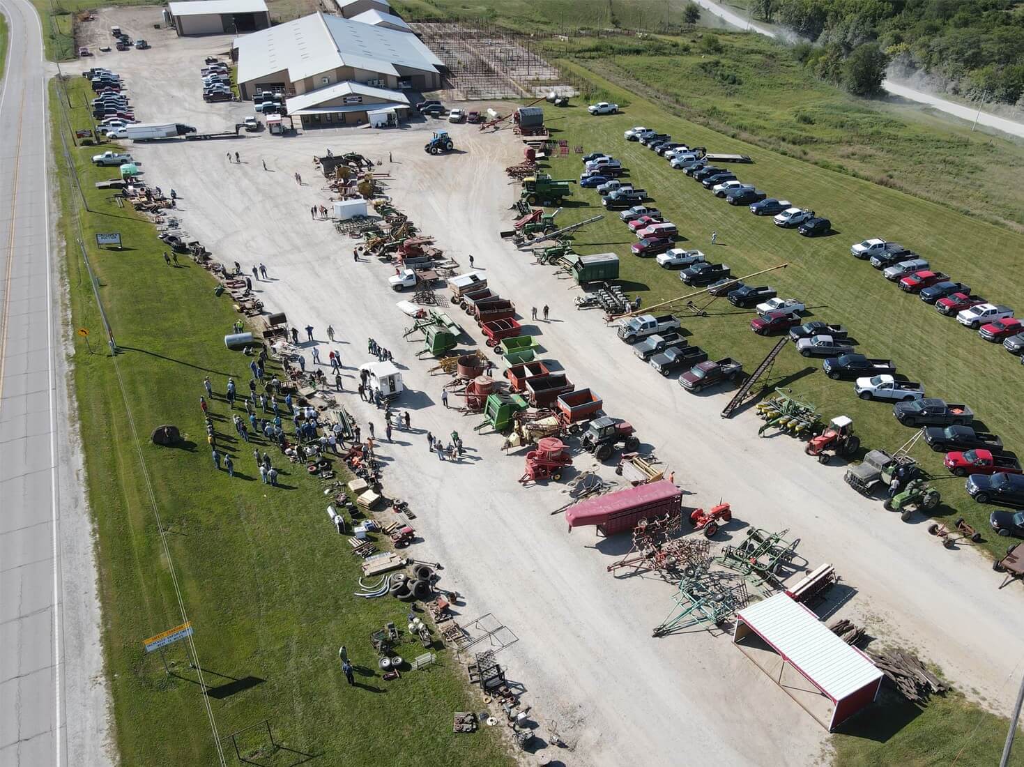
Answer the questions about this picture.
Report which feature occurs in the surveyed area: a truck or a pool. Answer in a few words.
truck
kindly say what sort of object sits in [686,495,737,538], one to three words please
work vehicle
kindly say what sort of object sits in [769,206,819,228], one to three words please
truck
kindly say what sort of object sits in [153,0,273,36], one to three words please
shed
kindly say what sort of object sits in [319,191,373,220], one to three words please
trailer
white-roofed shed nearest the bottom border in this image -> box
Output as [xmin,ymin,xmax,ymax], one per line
[729,589,886,733]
